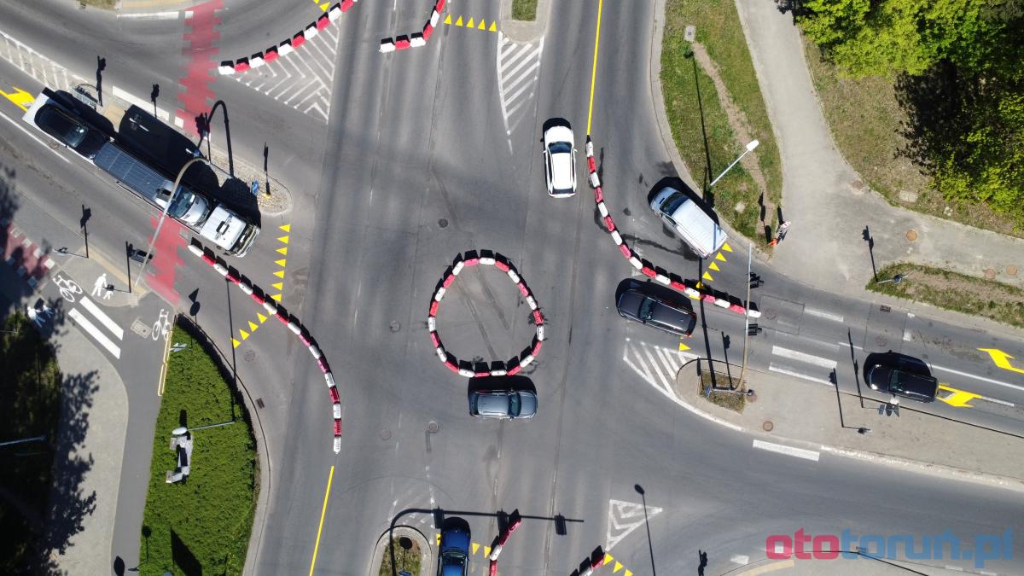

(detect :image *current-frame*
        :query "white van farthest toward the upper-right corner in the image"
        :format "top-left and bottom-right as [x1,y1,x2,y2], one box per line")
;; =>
[649,195,730,260]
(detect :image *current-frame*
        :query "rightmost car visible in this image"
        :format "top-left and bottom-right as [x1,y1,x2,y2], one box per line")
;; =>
[863,364,937,405]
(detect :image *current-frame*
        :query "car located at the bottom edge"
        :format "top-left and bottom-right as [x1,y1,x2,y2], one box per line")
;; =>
[436,529,475,576]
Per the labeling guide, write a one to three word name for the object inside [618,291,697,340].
car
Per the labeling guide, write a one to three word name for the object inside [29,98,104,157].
car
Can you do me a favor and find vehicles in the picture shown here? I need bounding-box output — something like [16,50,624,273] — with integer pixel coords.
[436,529,475,576]
[21,92,261,259]
[649,195,730,260]
[540,127,579,198]
[863,364,937,405]
[469,385,537,423]
[29,98,104,157]
[618,291,697,340]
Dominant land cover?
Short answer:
paved ground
